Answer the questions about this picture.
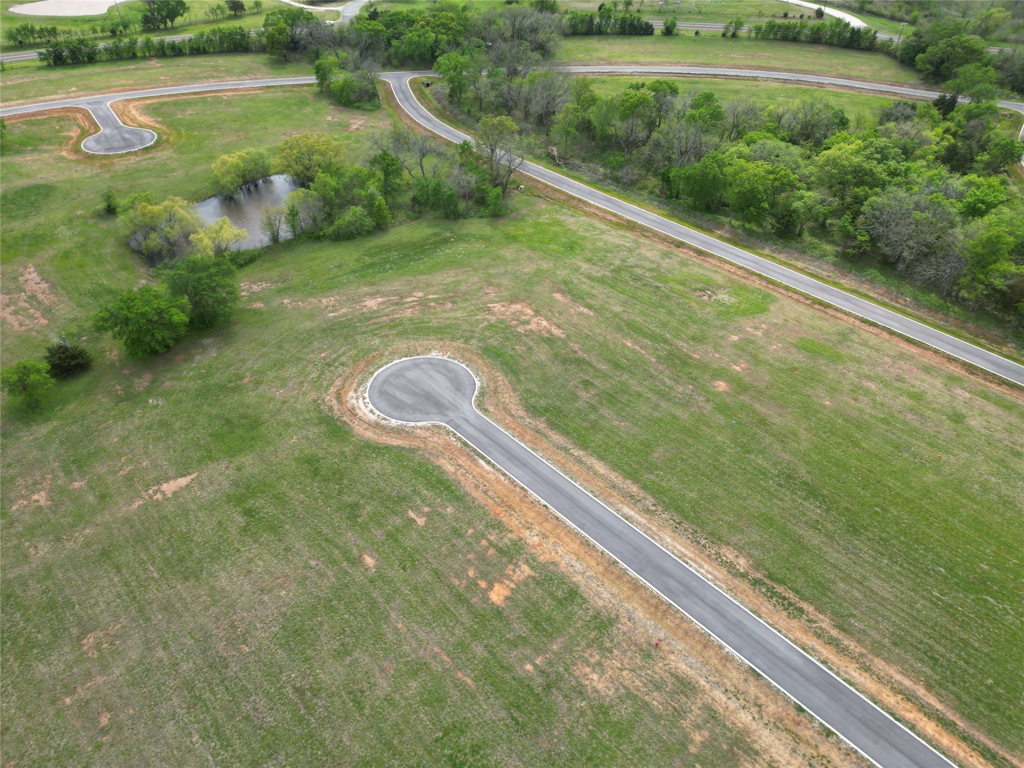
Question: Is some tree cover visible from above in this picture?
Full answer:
Yes, there is tree cover in the image.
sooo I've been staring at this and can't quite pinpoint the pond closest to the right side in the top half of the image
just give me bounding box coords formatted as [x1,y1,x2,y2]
[133,176,310,268]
